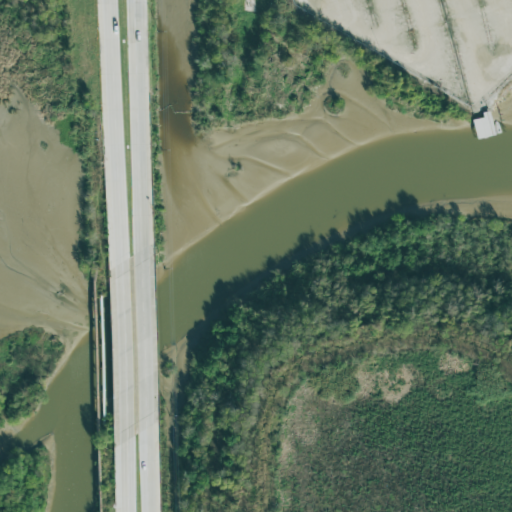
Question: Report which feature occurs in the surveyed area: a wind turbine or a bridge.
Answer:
bridge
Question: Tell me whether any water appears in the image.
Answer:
Yes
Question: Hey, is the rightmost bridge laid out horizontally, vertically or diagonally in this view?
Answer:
vertically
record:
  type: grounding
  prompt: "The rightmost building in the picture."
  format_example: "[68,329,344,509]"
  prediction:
[474,111,498,140]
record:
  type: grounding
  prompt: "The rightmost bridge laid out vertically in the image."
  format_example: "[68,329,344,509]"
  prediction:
[110,246,159,446]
